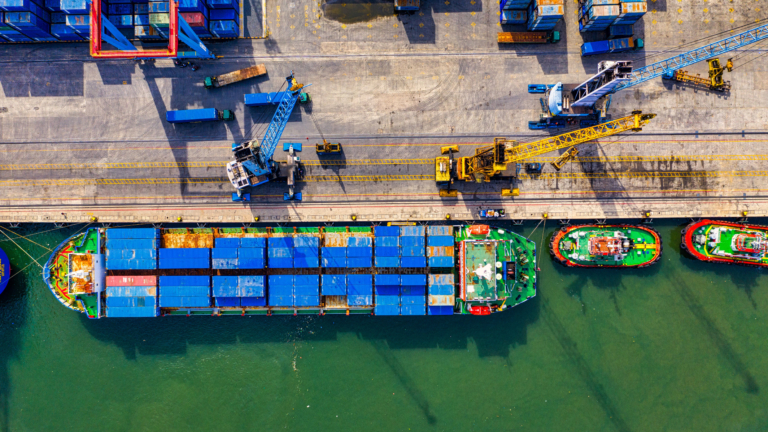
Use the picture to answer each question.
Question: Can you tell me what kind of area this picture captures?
port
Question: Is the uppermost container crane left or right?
left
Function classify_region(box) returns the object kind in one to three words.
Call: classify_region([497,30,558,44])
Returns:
vehicle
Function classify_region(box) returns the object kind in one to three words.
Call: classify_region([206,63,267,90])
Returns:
truck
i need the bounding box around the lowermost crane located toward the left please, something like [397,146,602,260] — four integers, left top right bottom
[219,65,336,201]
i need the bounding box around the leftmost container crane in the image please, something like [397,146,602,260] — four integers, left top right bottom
[92,0,227,60]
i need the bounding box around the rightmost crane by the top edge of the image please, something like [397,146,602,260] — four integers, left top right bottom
[527,19,768,129]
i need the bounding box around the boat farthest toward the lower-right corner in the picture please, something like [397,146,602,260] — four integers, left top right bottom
[678,218,768,271]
